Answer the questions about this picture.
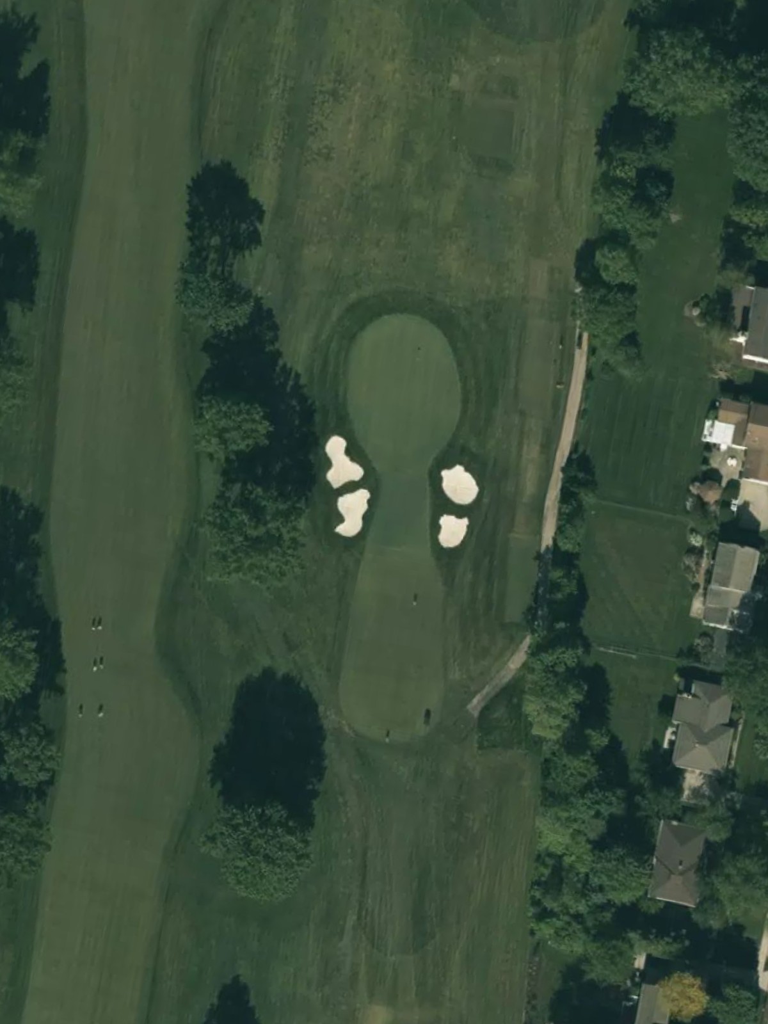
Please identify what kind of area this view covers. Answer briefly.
golf course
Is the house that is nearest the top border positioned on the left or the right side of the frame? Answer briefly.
right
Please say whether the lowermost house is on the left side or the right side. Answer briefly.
right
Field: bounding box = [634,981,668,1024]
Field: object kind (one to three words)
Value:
house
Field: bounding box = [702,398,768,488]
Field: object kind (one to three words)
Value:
house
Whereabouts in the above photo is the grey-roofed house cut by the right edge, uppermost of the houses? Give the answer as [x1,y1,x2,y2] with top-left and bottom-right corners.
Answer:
[727,288,768,366]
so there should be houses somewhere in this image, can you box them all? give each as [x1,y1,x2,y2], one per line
[702,398,768,488]
[648,819,706,908]
[727,288,768,366]
[634,981,668,1024]
[700,541,761,633]
[670,679,736,776]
